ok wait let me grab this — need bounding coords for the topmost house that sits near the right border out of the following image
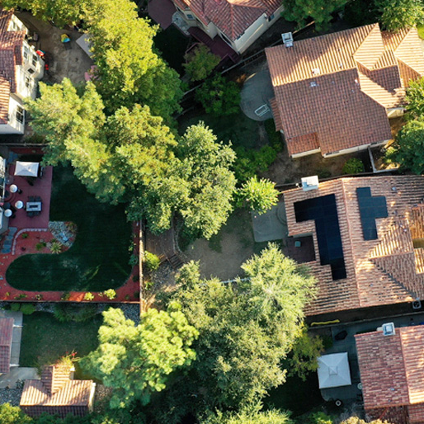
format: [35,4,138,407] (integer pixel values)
[264,22,424,159]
